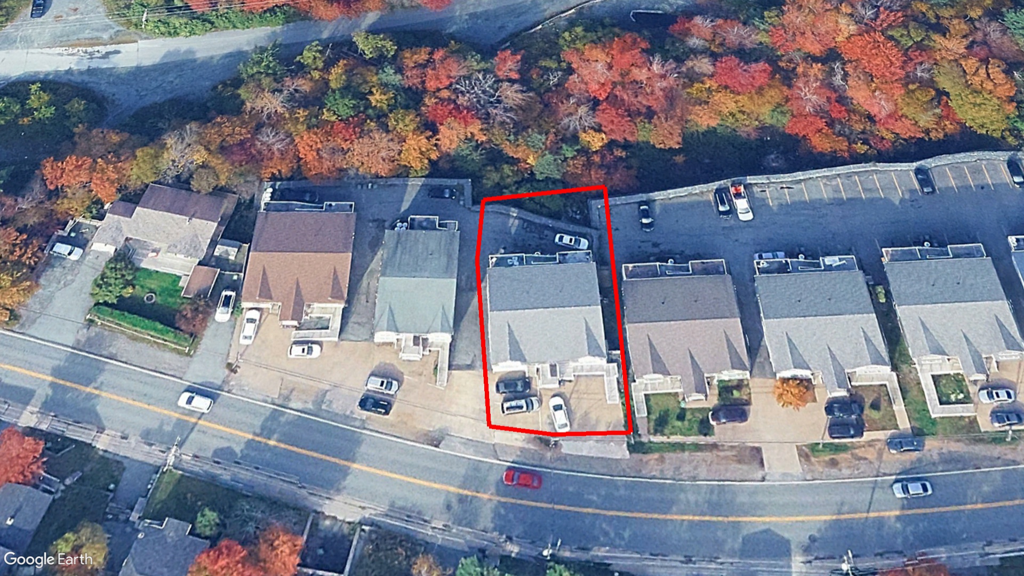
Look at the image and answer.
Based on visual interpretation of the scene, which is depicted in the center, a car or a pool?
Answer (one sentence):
The feature located in the center is a car.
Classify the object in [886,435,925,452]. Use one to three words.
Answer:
car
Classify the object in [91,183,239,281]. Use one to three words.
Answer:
house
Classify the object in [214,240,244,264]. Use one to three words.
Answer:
shed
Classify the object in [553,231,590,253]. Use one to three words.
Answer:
car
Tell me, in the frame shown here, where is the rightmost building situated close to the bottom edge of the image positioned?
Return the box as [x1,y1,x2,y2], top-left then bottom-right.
[113,518,211,576]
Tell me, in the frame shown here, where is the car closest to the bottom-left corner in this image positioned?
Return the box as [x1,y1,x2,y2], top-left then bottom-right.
[177,390,216,412]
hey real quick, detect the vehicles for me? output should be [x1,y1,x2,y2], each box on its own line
[177,390,216,412]
[217,290,235,323]
[714,185,732,219]
[553,231,590,253]
[914,165,934,195]
[753,250,785,262]
[989,410,1024,429]
[1005,156,1024,189]
[288,341,321,358]
[978,386,1015,404]
[357,394,394,415]
[49,240,85,261]
[239,310,259,345]
[730,181,752,222]
[886,435,925,452]
[495,377,531,394]
[500,394,541,415]
[279,188,319,206]
[365,375,400,395]
[28,0,44,19]
[892,480,933,497]
[639,201,654,232]
[825,399,863,417]
[709,406,750,424]
[502,469,543,489]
